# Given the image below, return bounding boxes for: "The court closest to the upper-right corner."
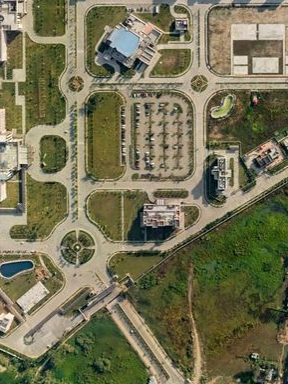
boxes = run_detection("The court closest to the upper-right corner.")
[258,24,285,40]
